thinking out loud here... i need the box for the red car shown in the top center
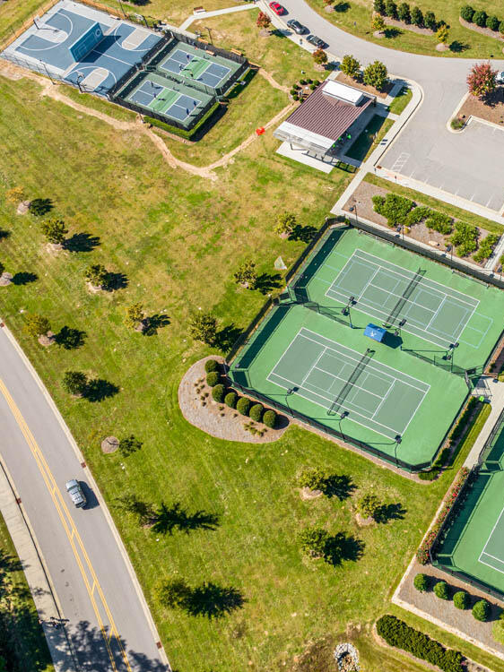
[267,1,286,17]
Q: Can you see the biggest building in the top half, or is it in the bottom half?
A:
top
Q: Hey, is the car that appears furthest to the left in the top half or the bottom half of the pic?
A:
bottom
